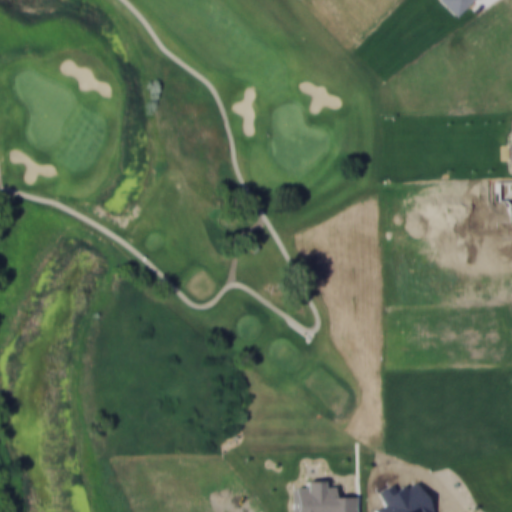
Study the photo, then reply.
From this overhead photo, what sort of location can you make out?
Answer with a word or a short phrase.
golf course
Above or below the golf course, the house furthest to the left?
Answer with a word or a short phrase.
below it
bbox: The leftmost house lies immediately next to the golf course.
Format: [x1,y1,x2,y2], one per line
[294,482,359,512]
